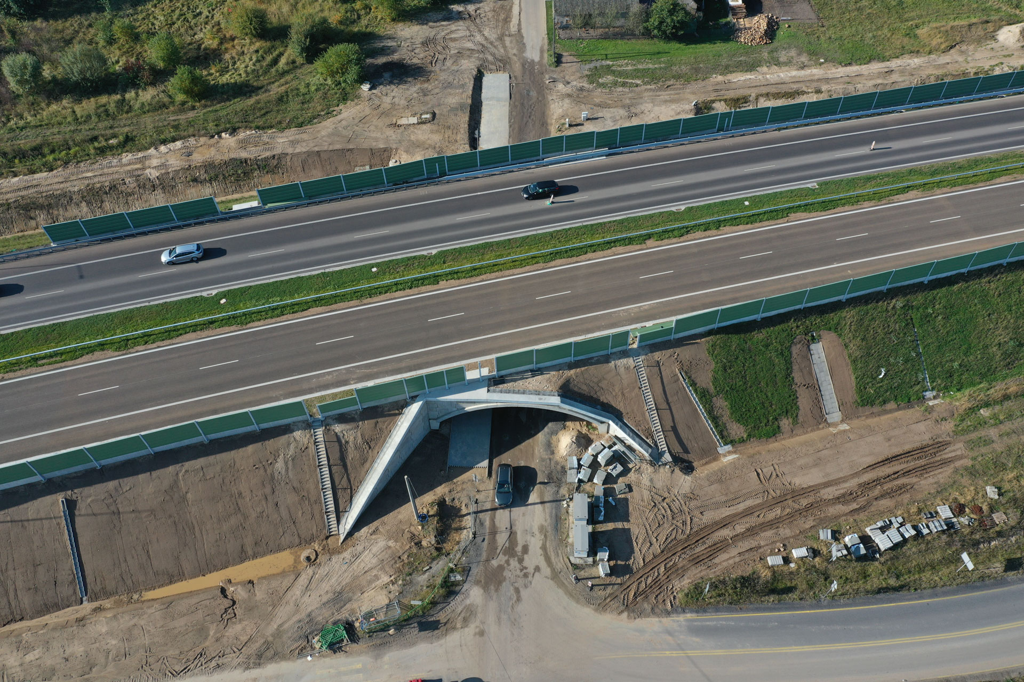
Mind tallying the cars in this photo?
3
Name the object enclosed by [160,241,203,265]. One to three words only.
car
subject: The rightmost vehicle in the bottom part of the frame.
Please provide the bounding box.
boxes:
[492,466,516,511]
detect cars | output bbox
[160,241,203,265]
[520,177,561,199]
[492,466,516,511]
